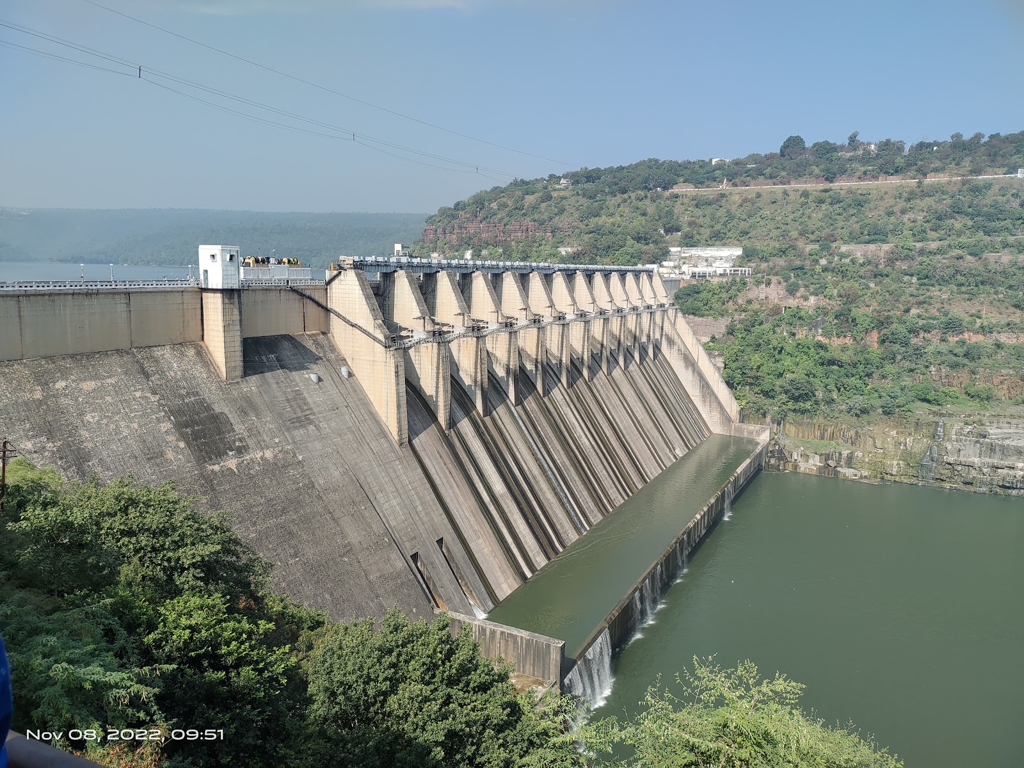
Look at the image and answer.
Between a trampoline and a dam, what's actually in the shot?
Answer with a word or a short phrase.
dam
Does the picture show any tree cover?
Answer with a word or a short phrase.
Yes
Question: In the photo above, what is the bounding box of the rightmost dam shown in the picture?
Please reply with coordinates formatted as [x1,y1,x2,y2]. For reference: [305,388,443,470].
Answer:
[566,432,768,705]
